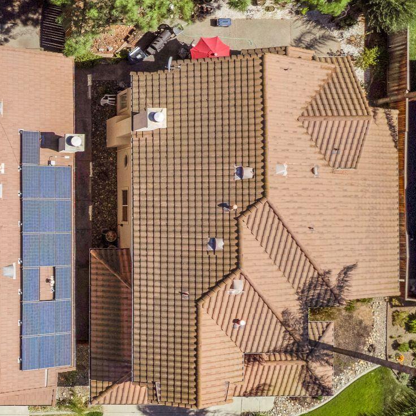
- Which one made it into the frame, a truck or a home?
home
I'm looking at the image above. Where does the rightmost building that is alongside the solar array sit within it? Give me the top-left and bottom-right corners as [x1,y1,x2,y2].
[79,45,401,409]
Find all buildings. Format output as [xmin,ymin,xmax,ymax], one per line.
[0,45,84,407]
[79,45,401,409]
